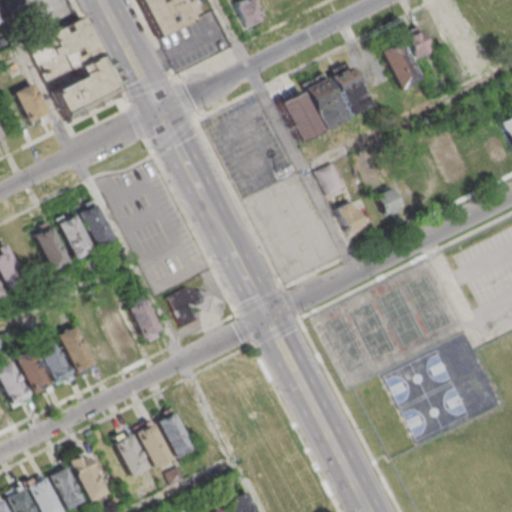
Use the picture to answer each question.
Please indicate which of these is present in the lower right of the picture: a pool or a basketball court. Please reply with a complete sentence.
It is a basketball court that can be seen in the lower right of the picture.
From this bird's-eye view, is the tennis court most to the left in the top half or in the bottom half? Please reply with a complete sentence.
Seen from above, the tennis court most to the left lies in the bottom half of the view.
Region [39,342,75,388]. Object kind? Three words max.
house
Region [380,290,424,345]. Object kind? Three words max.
tennis court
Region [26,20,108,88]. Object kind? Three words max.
building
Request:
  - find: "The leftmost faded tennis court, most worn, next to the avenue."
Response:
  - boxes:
[323,316,367,375]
